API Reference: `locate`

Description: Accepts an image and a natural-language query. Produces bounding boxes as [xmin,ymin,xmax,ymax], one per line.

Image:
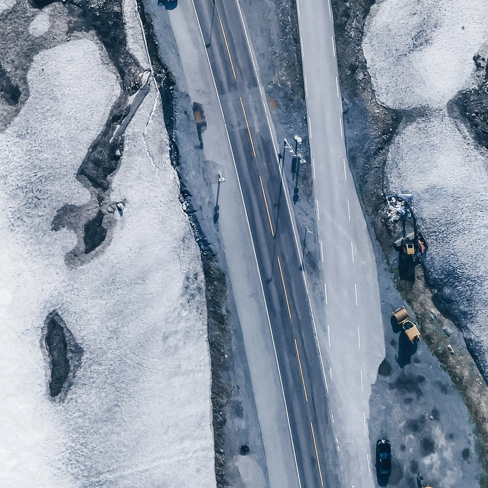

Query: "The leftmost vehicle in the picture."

[375,440,392,475]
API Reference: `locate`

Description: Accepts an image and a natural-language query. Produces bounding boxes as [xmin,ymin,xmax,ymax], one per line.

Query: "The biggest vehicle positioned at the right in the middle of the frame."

[399,199,428,267]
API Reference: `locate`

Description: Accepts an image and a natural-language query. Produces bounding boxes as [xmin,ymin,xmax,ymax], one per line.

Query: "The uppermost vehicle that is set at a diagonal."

[388,301,420,343]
